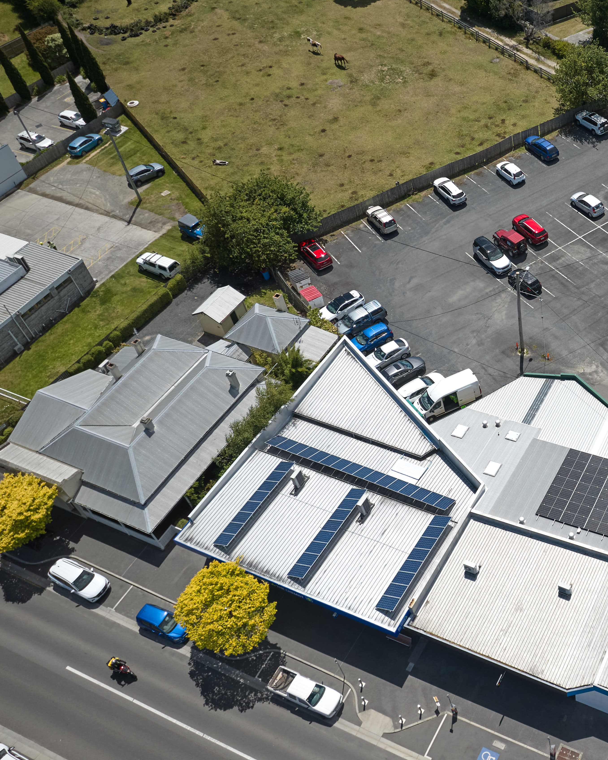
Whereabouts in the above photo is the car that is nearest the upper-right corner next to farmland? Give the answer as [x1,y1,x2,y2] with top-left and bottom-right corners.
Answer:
[523,135,561,161]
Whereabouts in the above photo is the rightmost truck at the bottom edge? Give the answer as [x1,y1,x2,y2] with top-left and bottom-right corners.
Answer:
[257,660,348,723]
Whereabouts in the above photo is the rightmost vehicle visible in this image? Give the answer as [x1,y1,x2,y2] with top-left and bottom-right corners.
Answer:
[571,190,608,217]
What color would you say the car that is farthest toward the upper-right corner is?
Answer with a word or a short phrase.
blue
